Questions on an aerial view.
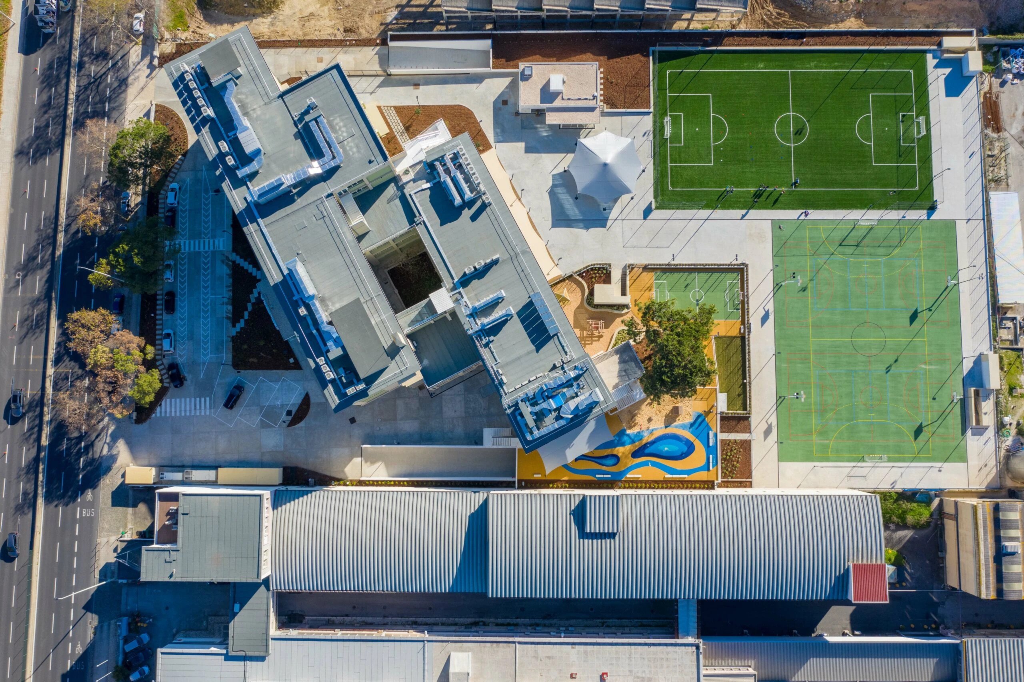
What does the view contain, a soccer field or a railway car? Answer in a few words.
soccer field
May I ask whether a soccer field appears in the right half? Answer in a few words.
Yes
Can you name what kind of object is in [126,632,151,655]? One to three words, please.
vehicle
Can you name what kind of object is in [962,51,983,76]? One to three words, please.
building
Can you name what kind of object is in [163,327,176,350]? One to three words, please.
vehicle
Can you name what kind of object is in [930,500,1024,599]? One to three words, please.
shed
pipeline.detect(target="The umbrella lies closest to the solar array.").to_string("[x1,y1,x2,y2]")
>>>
[553,287,570,302]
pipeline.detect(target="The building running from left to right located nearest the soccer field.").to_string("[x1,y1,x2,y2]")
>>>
[939,36,976,50]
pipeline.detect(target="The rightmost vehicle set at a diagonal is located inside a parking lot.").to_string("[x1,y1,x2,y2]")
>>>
[223,384,244,410]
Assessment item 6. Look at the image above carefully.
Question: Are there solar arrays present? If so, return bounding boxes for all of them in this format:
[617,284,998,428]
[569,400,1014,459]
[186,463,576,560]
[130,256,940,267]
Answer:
[530,292,559,337]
